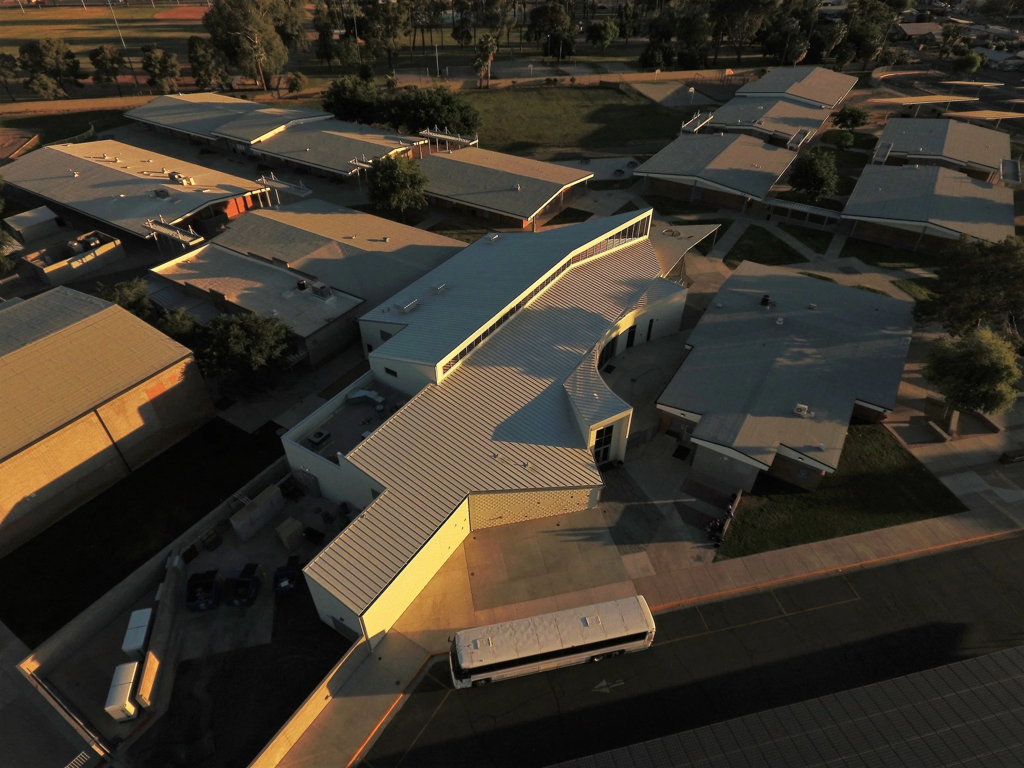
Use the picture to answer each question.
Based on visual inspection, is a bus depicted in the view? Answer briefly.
Yes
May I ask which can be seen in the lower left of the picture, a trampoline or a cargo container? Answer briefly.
cargo container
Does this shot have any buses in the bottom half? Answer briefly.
Yes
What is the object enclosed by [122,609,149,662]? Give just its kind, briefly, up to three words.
shipping container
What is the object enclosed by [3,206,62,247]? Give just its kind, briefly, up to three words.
shed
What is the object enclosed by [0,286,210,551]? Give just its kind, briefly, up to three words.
building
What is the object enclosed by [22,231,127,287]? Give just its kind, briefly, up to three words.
building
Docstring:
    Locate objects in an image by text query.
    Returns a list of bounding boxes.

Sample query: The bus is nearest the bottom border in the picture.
[449,601,656,691]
